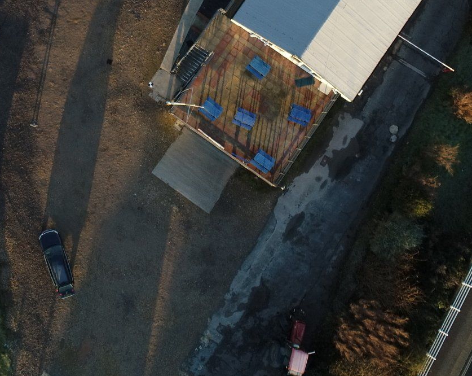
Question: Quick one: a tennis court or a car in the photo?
car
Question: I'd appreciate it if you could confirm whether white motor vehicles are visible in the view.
No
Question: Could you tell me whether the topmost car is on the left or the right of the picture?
left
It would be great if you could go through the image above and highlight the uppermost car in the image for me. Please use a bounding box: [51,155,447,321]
[38,229,76,297]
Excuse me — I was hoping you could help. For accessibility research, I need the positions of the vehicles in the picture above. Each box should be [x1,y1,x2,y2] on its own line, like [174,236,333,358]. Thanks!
[273,299,314,375]
[38,229,76,297]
